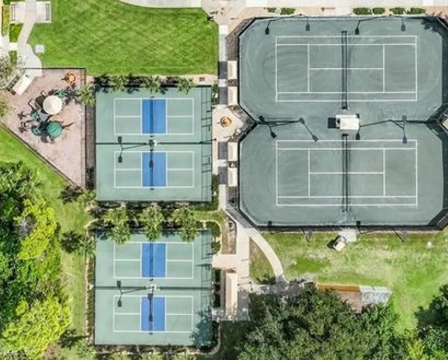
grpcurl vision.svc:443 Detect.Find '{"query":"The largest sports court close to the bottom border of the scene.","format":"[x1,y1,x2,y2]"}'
[94,289,213,346]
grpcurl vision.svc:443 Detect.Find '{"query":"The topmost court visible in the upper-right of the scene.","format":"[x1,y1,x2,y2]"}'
[240,18,448,122]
